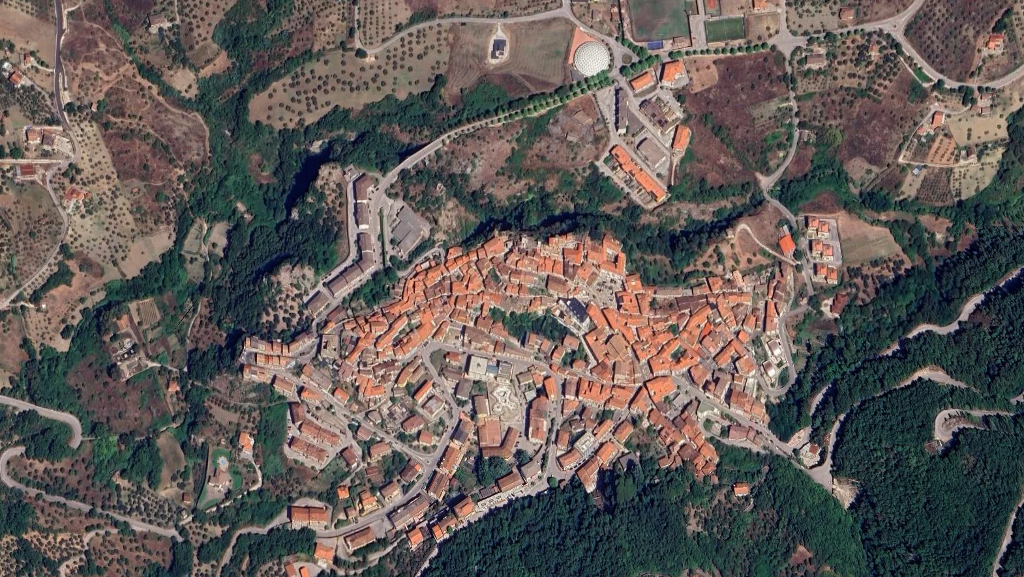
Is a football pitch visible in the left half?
No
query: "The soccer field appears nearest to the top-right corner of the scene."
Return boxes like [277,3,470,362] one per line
[706,17,745,43]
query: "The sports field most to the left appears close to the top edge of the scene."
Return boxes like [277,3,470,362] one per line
[631,0,689,40]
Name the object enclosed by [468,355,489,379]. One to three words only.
building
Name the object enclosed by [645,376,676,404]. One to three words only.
building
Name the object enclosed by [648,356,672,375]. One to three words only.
house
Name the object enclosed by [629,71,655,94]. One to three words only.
house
